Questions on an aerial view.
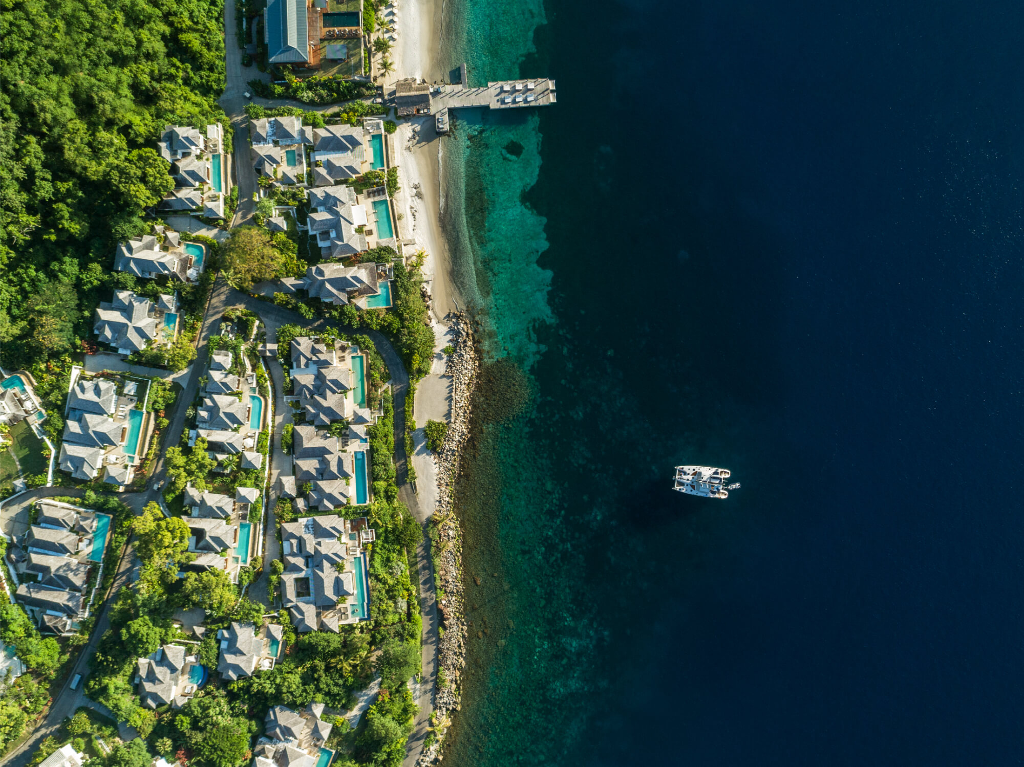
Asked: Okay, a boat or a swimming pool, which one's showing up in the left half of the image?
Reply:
swimming pool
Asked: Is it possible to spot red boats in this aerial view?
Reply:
No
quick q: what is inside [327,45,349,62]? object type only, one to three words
building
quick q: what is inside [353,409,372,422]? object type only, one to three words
gazebo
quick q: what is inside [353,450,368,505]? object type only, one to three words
swimming pool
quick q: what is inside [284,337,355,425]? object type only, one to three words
house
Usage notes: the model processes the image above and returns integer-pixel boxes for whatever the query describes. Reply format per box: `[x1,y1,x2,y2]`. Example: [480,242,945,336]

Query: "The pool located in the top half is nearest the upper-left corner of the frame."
[210,153,222,193]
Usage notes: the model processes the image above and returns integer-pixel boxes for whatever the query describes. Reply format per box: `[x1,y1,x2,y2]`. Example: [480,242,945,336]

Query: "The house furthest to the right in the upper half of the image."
[395,80,432,121]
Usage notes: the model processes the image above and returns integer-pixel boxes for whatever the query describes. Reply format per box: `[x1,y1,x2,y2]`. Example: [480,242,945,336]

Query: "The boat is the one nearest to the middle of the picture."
[672,466,730,499]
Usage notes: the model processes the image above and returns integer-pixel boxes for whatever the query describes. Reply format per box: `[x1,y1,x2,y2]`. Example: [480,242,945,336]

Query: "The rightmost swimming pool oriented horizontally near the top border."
[323,11,360,27]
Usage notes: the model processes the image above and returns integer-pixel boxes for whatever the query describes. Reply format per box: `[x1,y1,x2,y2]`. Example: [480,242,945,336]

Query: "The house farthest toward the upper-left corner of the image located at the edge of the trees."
[156,125,221,212]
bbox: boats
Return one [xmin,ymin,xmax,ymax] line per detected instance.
[728,483,741,489]
[672,466,730,499]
